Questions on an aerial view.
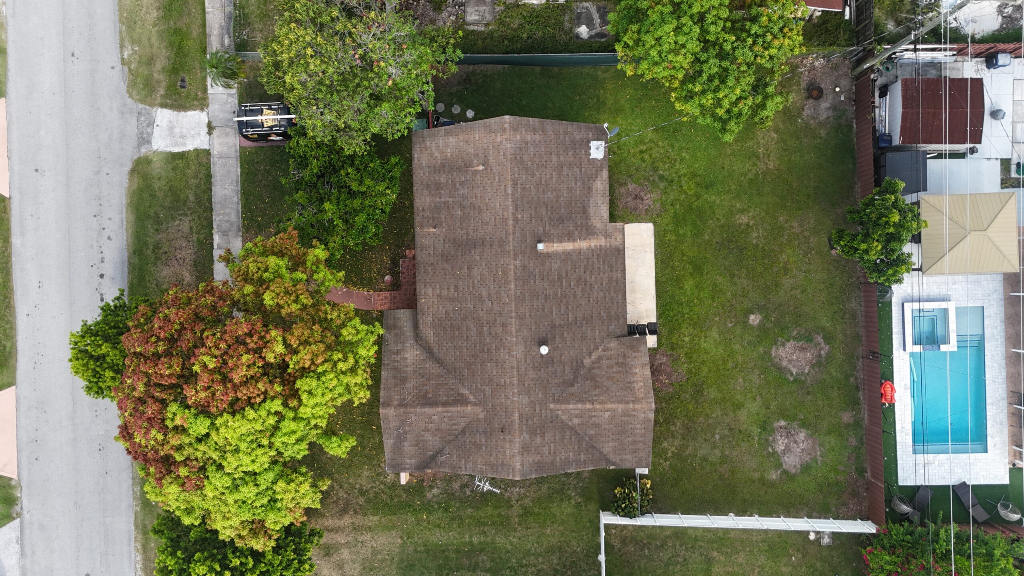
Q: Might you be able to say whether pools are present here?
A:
Yes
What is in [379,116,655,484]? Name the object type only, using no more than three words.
house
